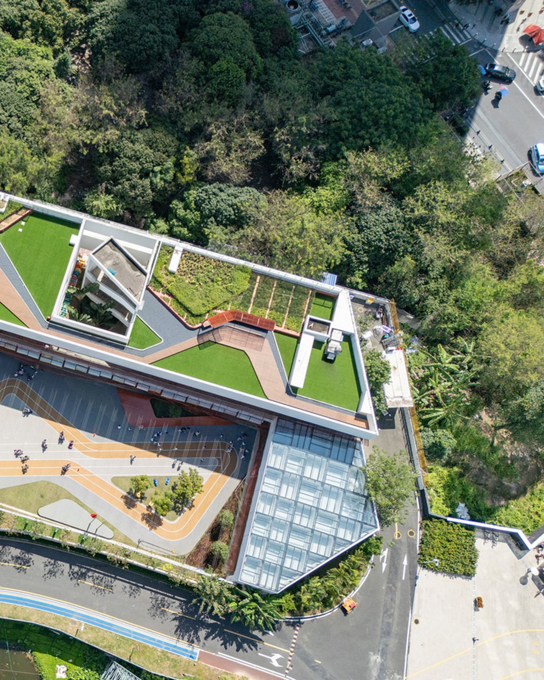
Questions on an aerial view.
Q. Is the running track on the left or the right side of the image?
left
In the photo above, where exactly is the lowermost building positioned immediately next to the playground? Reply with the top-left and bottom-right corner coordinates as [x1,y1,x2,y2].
[213,418,379,594]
